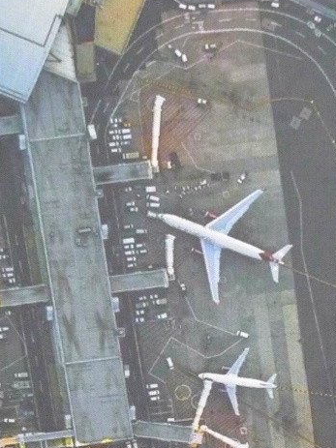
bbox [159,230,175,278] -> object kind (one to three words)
jet bridge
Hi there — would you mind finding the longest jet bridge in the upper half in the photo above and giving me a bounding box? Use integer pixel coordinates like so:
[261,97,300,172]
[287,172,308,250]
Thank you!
[148,92,166,171]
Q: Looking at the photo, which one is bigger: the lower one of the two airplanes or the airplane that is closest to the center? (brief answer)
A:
the airplane that is closest to the center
